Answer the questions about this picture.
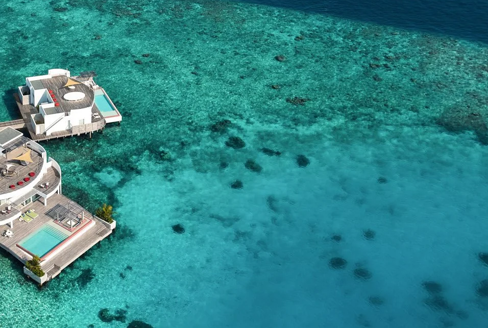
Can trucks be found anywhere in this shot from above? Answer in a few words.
No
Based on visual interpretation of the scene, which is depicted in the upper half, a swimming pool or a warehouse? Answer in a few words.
swimming pool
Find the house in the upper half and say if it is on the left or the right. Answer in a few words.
left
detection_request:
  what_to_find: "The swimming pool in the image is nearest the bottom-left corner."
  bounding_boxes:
[15,207,96,265]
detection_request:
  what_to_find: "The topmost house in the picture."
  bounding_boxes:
[11,66,106,150]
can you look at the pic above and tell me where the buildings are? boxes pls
[0,127,117,298]
[11,66,106,150]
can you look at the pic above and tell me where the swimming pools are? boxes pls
[15,207,96,265]
[92,86,123,124]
